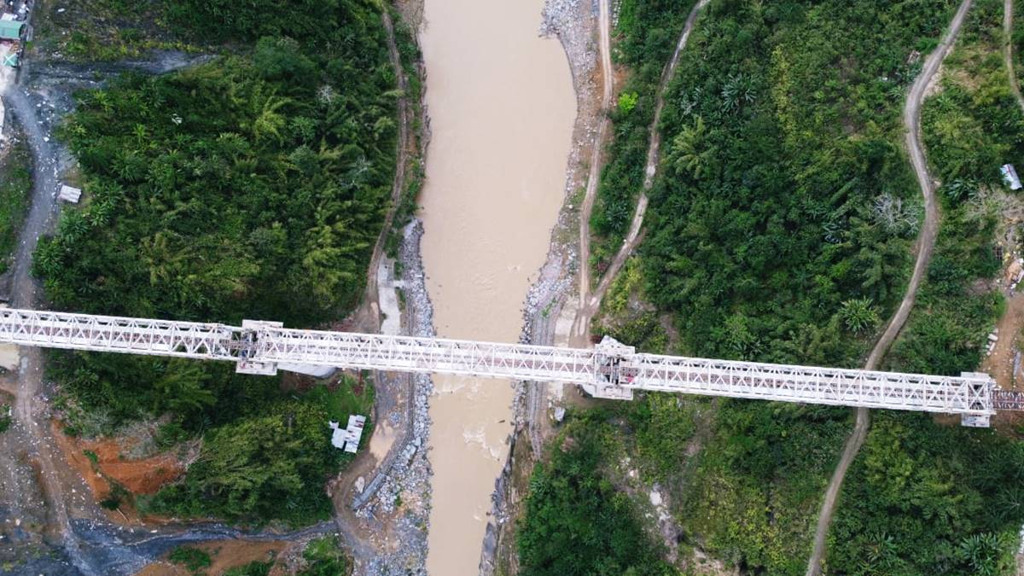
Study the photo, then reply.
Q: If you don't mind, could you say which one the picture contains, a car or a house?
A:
house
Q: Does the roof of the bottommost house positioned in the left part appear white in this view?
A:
Yes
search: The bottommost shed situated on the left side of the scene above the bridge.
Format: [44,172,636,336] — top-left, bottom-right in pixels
[59,185,85,204]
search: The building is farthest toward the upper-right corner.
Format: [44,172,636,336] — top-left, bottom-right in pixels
[995,164,1021,192]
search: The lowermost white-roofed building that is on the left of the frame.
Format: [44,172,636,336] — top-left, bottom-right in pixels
[330,415,368,453]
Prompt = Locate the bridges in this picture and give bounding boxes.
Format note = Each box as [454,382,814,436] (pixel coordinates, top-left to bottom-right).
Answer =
[0,308,1024,429]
